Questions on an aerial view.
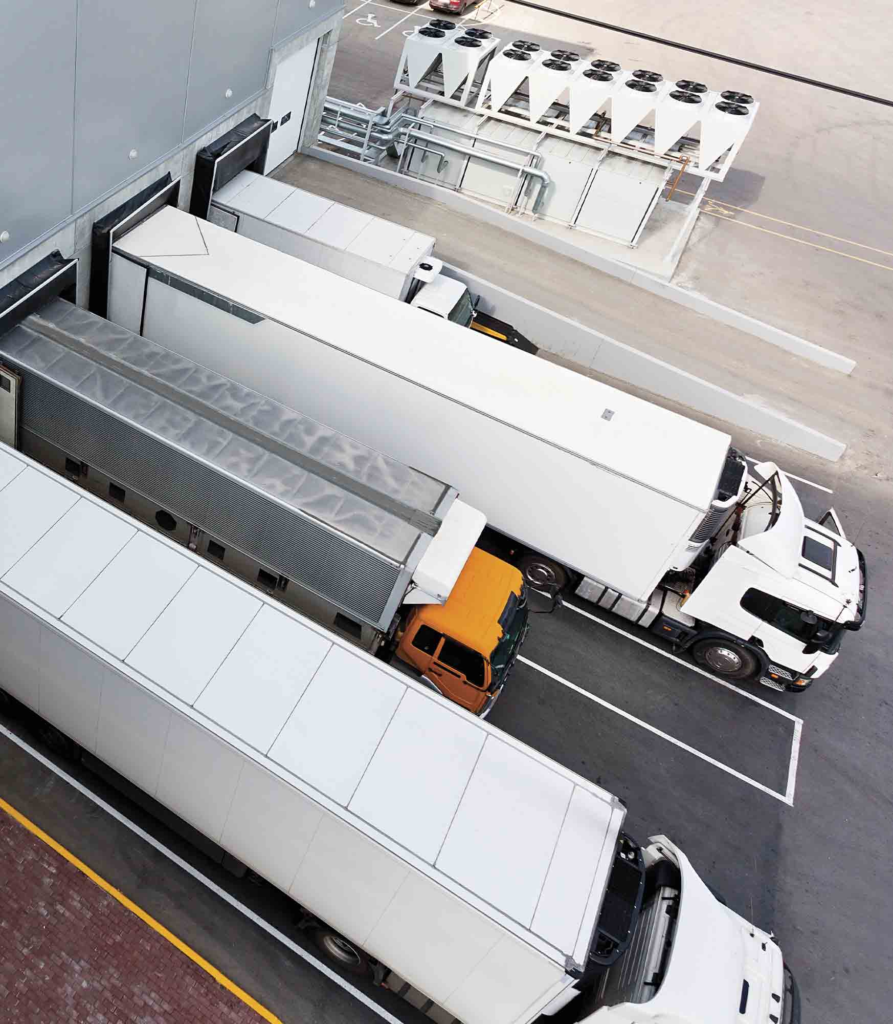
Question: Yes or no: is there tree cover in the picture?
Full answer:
No, the scene doesn't show any tree cover.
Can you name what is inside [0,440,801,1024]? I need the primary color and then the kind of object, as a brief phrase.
white truck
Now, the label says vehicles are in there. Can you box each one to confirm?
[0,297,557,720]
[431,0,483,16]
[106,206,862,697]
[207,170,487,329]
[0,440,801,1024]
